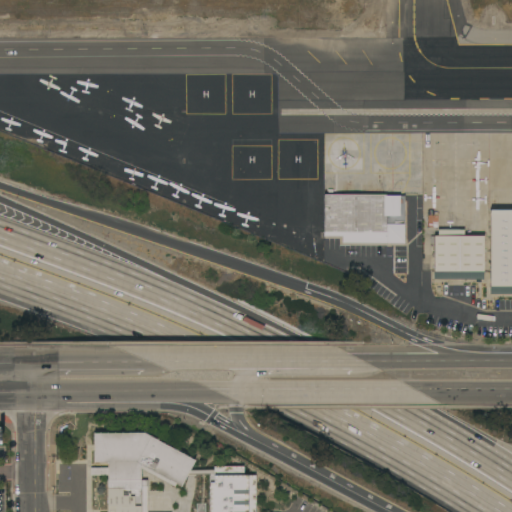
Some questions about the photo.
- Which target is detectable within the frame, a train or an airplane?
airplane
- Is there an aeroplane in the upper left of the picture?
Yes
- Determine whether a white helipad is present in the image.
No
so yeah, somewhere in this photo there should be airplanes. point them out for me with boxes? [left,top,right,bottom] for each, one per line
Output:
[425,186,439,208]
[76,80,98,94]
[122,96,144,112]
[169,180,190,198]
[147,173,168,190]
[236,210,258,226]
[78,146,98,161]
[124,167,144,181]
[60,87,80,104]
[474,191,487,209]
[39,75,60,90]
[191,192,213,208]
[474,151,490,172]
[152,112,172,128]
[124,112,144,130]
[213,202,236,218]
[32,128,53,142]
[0,117,20,130]
[54,137,68,152]
[474,173,488,190]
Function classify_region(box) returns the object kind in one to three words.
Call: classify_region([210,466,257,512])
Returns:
building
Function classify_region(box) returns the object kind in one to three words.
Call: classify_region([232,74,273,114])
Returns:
helipad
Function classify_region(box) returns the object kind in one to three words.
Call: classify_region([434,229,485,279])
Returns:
hangar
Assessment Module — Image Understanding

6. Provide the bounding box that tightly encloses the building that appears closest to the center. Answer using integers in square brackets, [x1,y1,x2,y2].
[323,194,406,244]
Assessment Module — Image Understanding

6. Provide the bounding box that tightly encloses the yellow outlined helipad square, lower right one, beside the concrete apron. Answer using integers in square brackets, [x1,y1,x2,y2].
[278,140,318,180]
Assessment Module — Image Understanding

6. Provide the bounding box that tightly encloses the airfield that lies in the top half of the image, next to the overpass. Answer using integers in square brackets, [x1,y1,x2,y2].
[0,0,512,311]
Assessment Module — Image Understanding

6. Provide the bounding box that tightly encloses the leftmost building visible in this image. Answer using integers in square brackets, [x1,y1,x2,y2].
[91,432,196,512]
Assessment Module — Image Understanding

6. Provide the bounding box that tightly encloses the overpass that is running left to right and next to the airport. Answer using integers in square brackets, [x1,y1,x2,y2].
[0,341,452,408]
